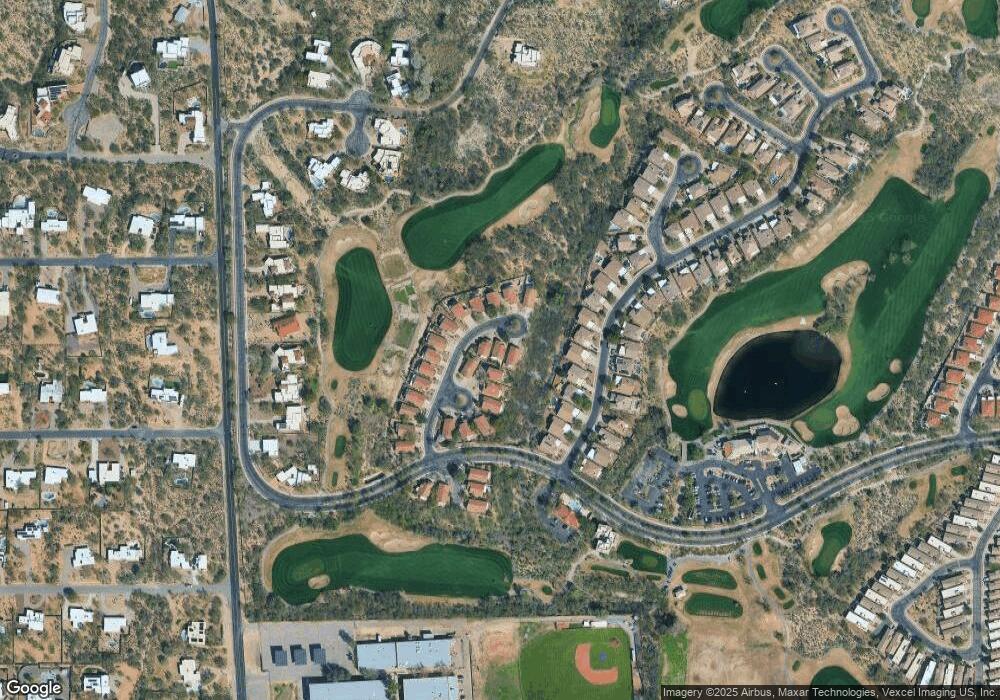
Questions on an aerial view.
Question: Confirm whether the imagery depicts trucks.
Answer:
No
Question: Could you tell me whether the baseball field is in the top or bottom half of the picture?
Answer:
bottom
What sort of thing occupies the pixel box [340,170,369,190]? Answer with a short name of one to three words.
house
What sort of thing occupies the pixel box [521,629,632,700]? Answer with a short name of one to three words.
baseball field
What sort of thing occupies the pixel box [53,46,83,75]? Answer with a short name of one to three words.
house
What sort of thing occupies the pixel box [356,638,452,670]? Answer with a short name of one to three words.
building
